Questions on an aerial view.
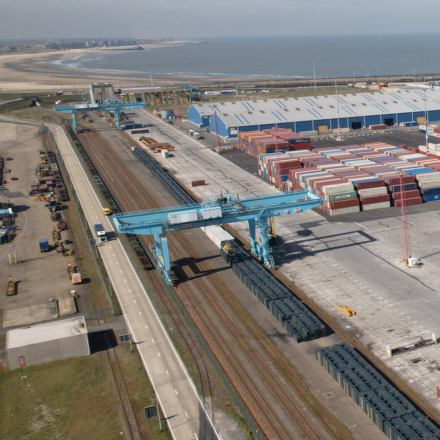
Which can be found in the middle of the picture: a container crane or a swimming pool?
container crane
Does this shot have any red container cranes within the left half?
No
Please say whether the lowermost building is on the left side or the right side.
left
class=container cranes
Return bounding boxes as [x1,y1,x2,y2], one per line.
[111,183,327,286]
[53,97,144,132]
